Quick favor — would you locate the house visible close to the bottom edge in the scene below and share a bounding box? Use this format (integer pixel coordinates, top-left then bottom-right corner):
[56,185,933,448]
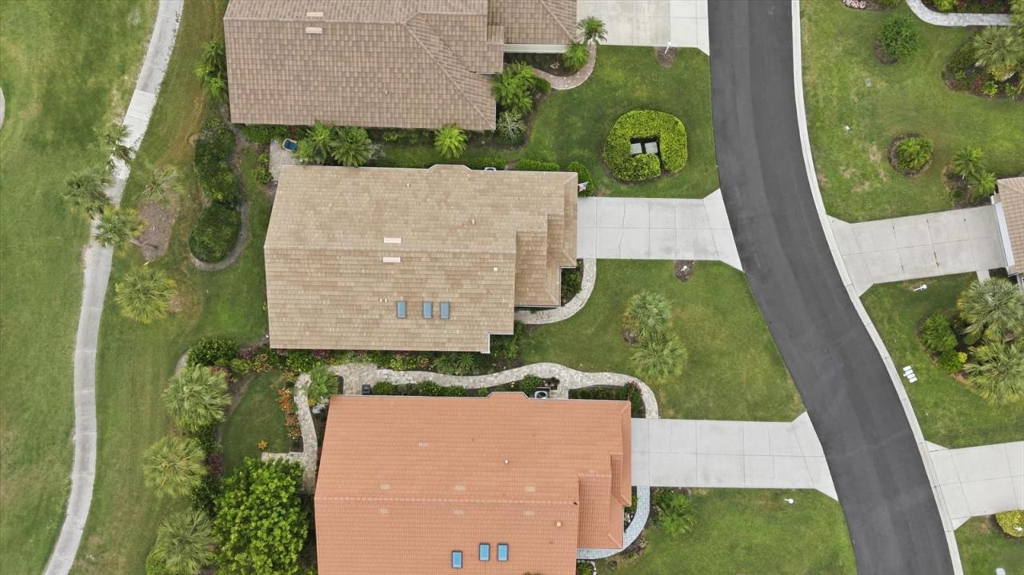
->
[314,391,632,575]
